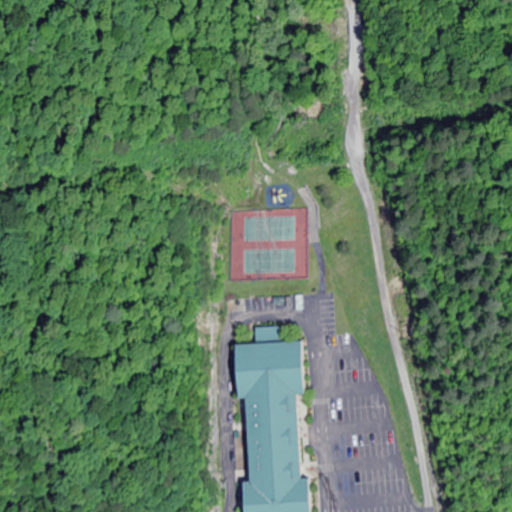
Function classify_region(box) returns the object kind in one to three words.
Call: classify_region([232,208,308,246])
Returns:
tennis court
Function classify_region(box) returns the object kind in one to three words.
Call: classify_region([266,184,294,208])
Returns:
playground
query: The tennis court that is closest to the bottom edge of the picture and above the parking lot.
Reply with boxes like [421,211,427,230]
[231,243,308,280]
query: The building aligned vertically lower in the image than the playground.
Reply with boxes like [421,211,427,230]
[234,325,310,512]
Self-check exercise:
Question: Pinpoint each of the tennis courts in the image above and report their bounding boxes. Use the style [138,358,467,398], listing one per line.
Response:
[231,243,308,280]
[232,208,308,246]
